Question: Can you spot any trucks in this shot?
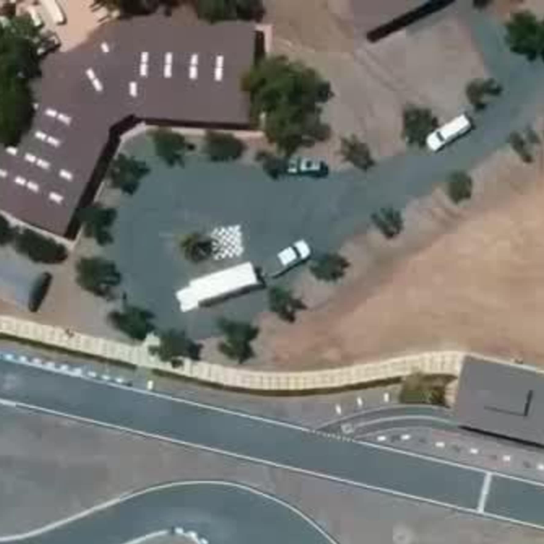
Yes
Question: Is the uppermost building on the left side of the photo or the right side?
right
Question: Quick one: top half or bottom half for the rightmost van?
top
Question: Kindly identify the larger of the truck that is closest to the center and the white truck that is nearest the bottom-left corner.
the white truck that is nearest the bottom-left corner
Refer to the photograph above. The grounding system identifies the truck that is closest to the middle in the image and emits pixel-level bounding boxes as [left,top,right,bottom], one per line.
[274,238,314,269]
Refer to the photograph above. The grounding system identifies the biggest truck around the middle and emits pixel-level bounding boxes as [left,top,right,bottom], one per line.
[179,262,262,309]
